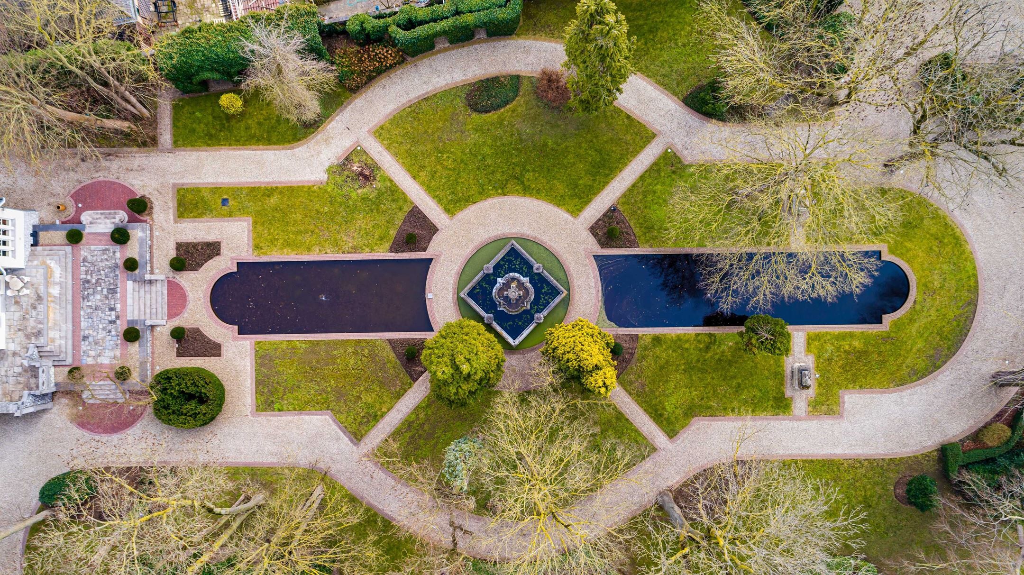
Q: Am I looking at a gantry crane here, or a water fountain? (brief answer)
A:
water fountain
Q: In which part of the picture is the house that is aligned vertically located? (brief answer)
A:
left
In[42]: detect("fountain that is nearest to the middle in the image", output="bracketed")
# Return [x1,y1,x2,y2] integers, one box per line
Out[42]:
[460,240,567,347]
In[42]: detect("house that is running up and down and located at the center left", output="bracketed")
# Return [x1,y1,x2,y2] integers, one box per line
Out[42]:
[0,196,37,276]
